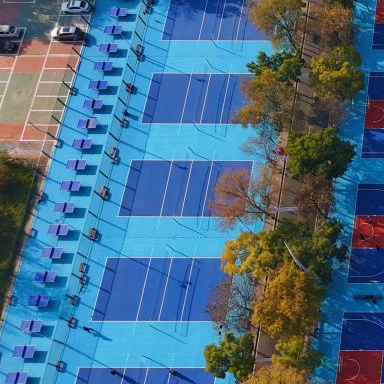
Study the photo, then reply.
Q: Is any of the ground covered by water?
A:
No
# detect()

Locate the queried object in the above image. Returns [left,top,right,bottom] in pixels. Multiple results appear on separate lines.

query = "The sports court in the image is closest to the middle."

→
[118,149,251,228]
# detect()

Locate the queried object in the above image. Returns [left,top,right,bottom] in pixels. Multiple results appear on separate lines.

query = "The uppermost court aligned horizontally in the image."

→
[162,0,277,49]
